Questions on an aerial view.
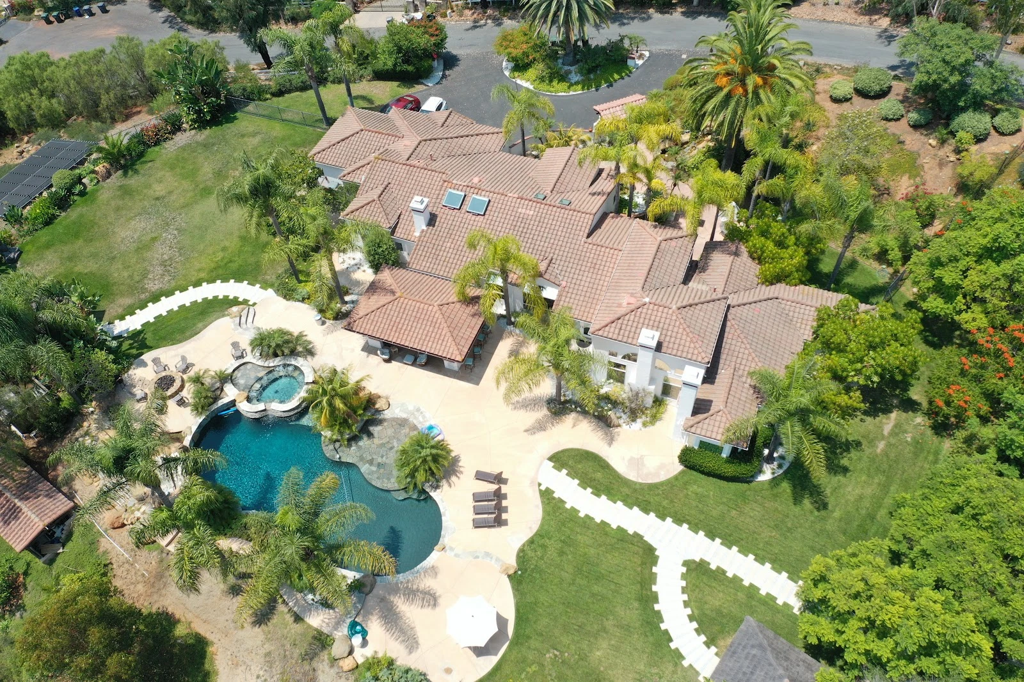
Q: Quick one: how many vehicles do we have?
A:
2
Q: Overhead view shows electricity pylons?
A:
No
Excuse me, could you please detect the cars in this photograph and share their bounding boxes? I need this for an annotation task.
[418,94,450,114]
[394,92,428,113]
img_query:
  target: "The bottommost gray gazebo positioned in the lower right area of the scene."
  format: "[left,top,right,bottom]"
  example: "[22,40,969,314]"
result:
[711,615,841,682]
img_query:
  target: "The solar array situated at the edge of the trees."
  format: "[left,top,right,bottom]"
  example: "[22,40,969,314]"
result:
[0,140,90,217]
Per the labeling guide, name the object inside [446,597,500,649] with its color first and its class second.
white umbrella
